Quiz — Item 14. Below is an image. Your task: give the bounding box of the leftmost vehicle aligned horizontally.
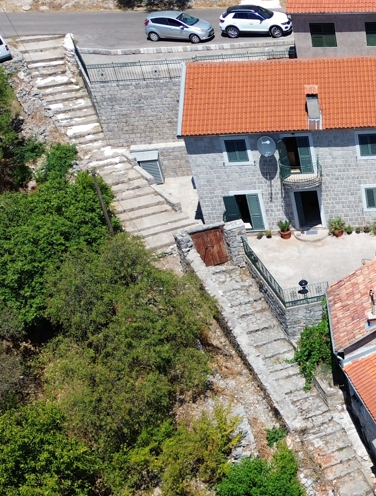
[137,8,216,43]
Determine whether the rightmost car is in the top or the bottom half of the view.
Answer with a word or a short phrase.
top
